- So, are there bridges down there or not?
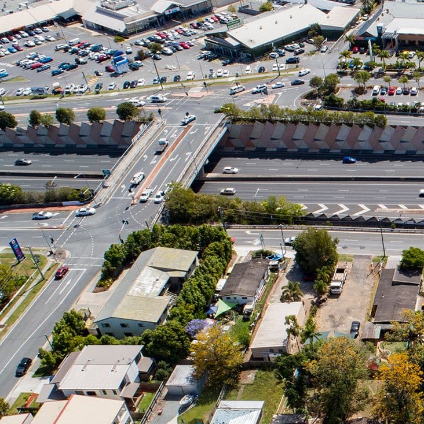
Yes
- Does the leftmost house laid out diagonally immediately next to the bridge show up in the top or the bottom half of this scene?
bottom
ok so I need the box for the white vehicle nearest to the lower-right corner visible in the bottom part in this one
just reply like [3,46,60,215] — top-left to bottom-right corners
[331,266,345,291]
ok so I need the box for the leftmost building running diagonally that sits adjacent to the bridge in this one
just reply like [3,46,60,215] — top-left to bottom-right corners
[89,248,201,341]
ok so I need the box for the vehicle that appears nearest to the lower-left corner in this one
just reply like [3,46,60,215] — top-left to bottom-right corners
[15,354,33,375]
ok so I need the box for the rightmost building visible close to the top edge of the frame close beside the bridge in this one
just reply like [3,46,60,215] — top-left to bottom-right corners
[206,5,361,64]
